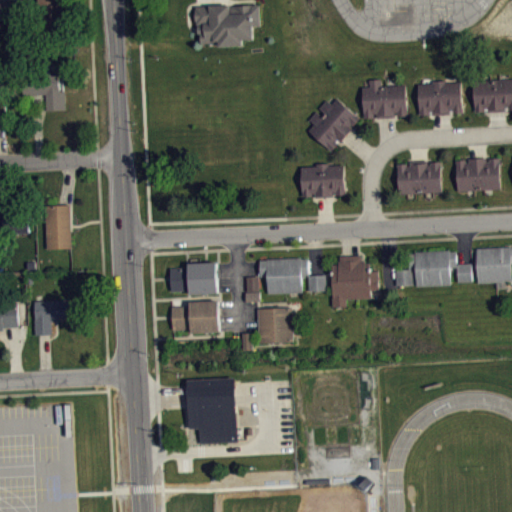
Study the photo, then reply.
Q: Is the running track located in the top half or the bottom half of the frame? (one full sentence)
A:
Seen from above, the running track lies in the bottom half of the view.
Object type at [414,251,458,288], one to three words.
house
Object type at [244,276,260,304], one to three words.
building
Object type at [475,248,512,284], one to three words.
house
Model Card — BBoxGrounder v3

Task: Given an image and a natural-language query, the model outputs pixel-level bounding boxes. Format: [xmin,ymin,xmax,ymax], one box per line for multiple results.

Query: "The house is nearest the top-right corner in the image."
[470,80,512,114]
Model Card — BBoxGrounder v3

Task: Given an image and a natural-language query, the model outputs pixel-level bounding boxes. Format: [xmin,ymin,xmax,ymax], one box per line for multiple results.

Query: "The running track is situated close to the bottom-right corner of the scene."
[386,390,512,512]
